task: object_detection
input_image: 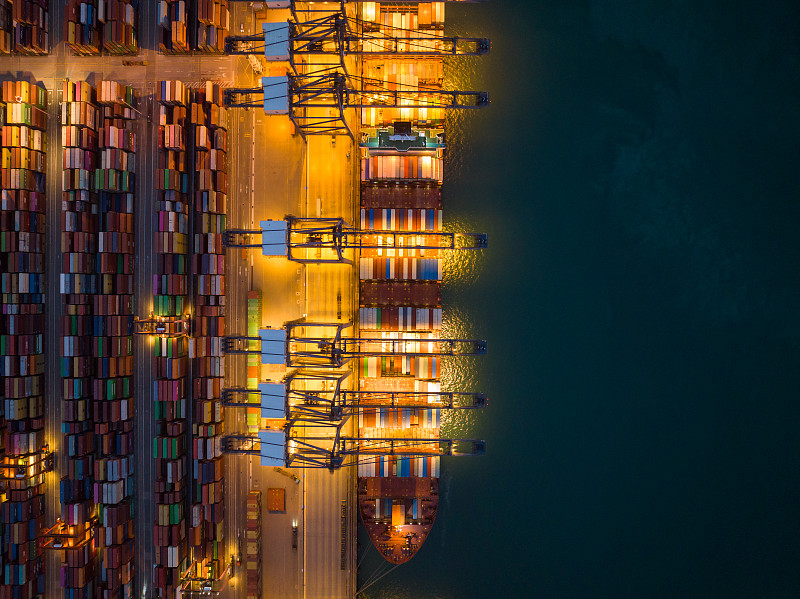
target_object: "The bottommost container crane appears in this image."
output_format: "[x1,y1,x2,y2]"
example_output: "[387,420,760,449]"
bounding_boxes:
[178,562,230,594]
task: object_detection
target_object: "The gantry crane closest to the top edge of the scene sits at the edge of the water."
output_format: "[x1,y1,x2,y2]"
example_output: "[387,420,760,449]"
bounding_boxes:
[227,0,491,52]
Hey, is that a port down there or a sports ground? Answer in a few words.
port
